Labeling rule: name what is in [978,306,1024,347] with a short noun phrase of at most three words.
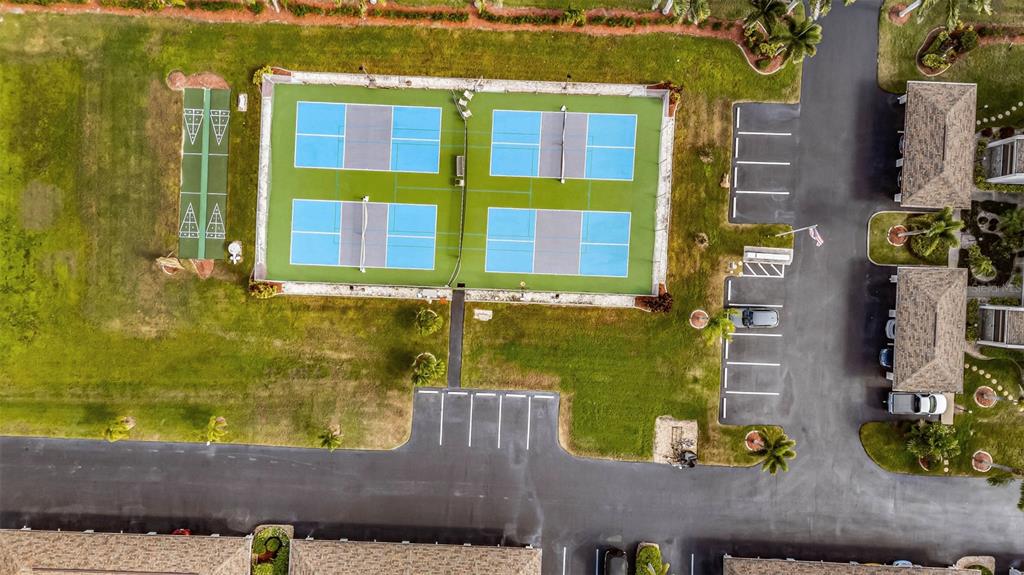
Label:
house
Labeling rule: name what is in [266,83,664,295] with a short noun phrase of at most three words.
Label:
tennis court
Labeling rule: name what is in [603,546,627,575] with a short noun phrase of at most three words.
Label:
car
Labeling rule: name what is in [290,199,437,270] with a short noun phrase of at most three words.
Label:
sports court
